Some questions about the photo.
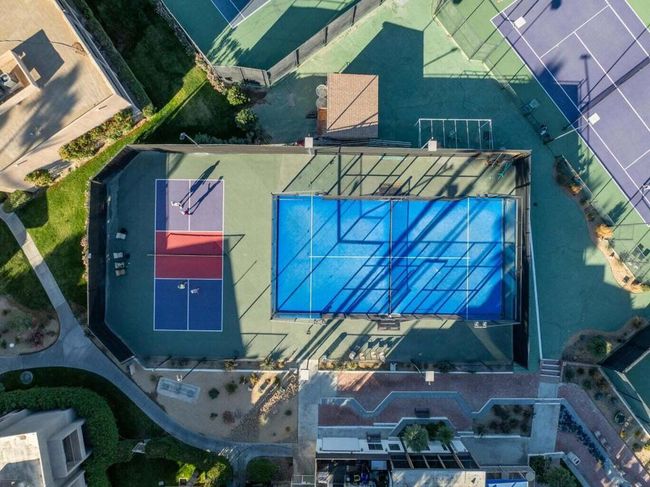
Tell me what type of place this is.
sports ground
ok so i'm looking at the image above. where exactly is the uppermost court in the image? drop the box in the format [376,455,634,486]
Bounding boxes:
[168,0,381,83]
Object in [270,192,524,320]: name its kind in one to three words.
sports court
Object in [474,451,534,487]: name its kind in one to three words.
building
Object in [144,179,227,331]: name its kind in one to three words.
sports court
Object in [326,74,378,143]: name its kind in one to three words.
shed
